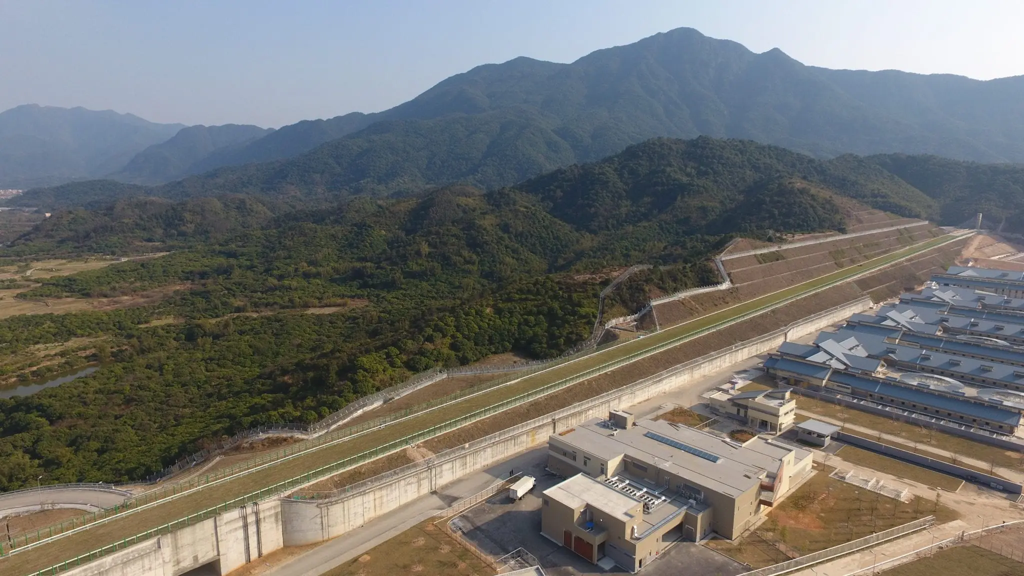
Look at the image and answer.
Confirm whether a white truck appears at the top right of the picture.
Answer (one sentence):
No, there's no white truck to be seen at the top right of the picture.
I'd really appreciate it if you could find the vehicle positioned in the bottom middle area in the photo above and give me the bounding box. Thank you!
[509,472,542,497]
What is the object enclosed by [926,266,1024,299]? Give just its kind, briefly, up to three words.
building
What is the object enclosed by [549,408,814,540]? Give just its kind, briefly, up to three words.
building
